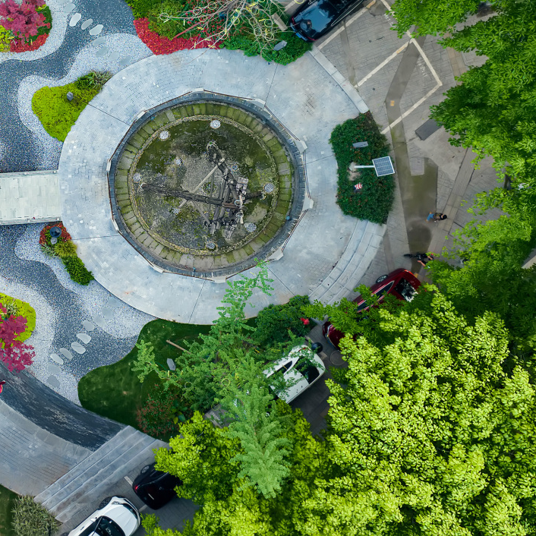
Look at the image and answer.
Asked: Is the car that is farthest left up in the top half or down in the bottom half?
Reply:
bottom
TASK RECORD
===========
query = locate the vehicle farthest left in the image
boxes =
[55,485,139,536]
